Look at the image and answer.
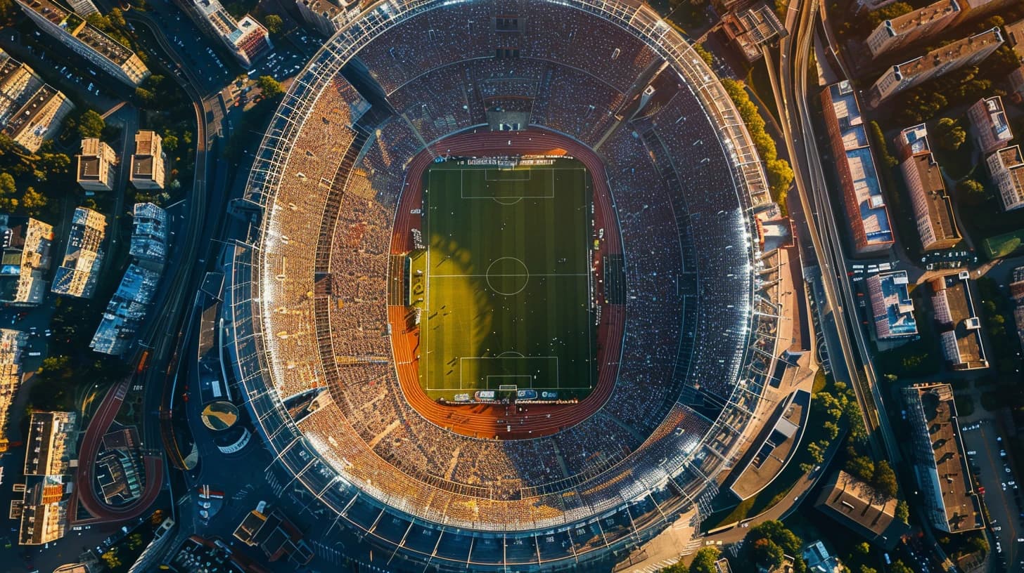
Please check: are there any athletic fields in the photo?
Yes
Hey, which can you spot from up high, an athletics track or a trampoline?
athletics track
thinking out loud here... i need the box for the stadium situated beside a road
[226,0,786,573]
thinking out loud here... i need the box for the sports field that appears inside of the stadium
[426,167,591,390]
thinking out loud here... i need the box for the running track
[389,132,626,439]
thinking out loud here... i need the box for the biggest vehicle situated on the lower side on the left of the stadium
[137,351,151,374]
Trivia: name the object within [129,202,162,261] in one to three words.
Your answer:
building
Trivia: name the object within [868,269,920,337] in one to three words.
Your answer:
building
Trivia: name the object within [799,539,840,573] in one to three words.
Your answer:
house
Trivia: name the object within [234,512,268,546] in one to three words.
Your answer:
house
